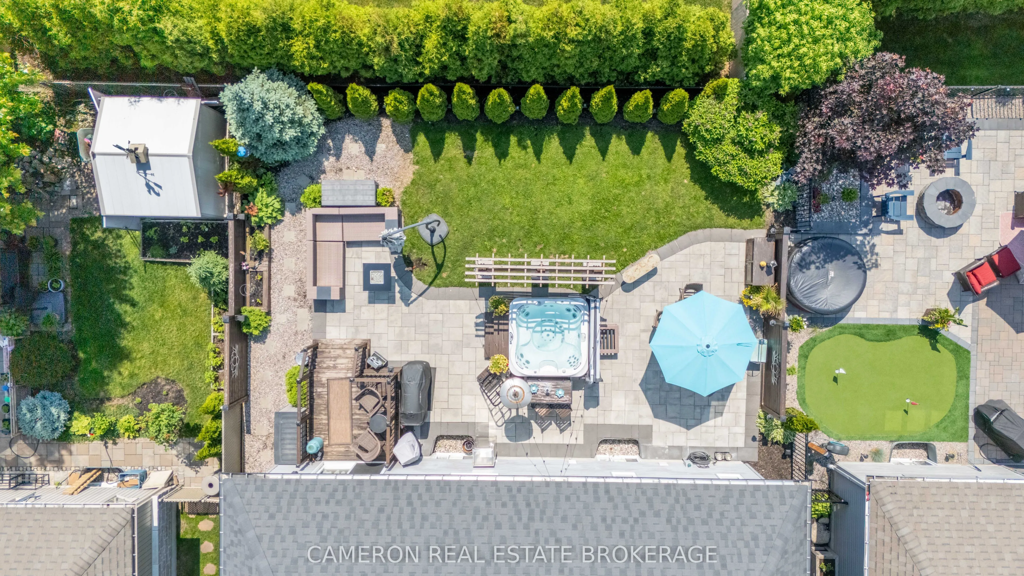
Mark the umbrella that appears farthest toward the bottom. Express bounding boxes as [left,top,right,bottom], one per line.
[649,290,757,397]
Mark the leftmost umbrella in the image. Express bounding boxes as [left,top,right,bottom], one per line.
[378,214,448,259]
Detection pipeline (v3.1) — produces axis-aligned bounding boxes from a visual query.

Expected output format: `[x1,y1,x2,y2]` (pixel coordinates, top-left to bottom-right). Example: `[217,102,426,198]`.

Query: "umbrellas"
[378,214,448,259]
[649,290,757,397]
